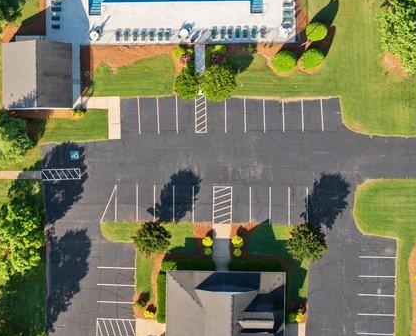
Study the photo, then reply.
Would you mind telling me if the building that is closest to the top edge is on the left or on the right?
left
